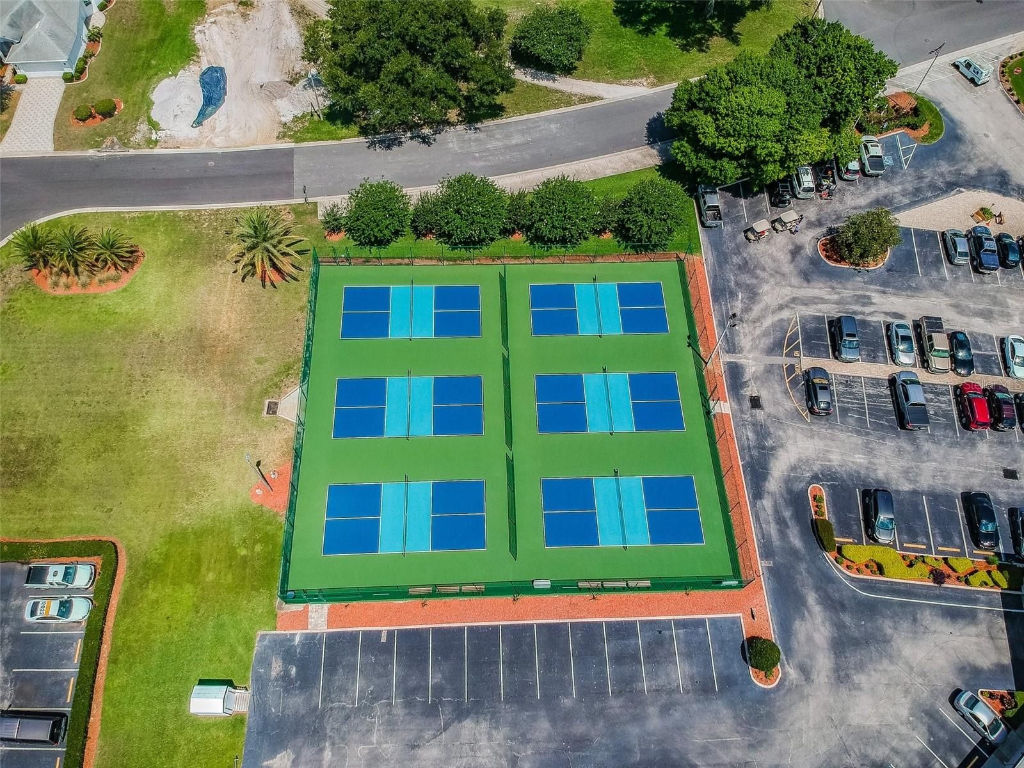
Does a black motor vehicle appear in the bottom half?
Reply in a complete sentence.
Yes, you'll find a black motor vehicle in the bottom half.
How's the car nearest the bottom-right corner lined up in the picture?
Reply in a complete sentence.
Seen from above, the car nearest the bottom-right corner lies diagonally.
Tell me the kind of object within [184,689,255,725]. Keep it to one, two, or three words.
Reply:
shed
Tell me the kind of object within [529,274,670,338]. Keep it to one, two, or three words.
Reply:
sports court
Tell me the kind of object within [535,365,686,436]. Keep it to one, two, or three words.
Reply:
sports court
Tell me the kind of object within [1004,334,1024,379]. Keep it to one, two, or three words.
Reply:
car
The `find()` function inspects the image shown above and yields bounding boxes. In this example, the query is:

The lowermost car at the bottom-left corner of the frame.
[0,713,67,747]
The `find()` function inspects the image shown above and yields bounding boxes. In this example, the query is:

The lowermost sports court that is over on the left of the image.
[322,474,486,557]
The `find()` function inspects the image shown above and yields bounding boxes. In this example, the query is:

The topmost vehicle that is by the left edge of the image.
[20,560,98,590]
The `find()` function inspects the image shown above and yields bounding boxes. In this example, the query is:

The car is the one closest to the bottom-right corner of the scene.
[950,686,1011,750]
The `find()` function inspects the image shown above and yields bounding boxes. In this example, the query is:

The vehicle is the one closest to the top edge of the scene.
[951,55,997,86]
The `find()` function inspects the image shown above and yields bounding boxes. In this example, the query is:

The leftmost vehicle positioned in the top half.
[698,182,725,224]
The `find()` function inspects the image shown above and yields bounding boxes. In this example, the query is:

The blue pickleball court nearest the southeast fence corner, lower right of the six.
[541,469,705,550]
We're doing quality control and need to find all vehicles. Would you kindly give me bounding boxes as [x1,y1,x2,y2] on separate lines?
[984,385,1019,431]
[769,172,791,206]
[1014,393,1024,438]
[994,232,1022,266]
[1004,334,1024,379]
[969,226,1002,274]
[943,231,975,265]
[950,686,1011,750]
[951,55,997,86]
[868,489,901,543]
[861,134,886,175]
[774,211,802,235]
[805,367,832,416]
[0,713,67,747]
[792,158,816,197]
[814,160,838,194]
[958,383,992,431]
[919,315,952,373]
[895,371,932,429]
[967,492,1003,550]
[698,182,725,224]
[1012,506,1024,556]
[948,331,977,377]
[834,314,863,363]
[22,594,93,623]
[20,560,98,590]
[746,219,774,243]
[888,320,918,367]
